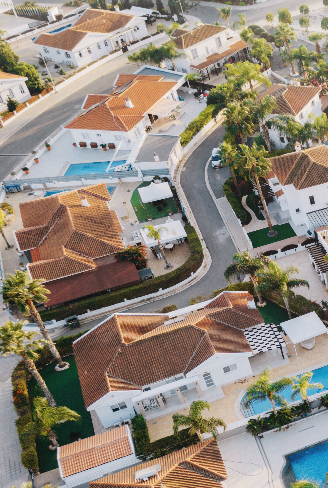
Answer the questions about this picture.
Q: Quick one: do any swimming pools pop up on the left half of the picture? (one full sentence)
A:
Yes, I can see a swimming pool on the left half of the picture.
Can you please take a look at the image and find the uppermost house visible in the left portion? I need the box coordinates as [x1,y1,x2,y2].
[34,3,149,65]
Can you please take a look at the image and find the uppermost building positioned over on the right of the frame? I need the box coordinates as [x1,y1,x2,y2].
[171,20,251,82]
